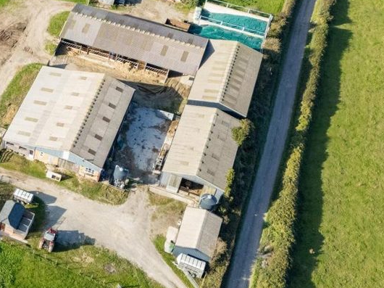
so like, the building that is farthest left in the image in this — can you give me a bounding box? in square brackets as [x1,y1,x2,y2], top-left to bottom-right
[0,202,42,245]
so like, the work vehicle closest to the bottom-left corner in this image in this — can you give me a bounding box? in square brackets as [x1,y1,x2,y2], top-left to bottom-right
[40,227,59,254]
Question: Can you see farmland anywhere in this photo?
Yes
